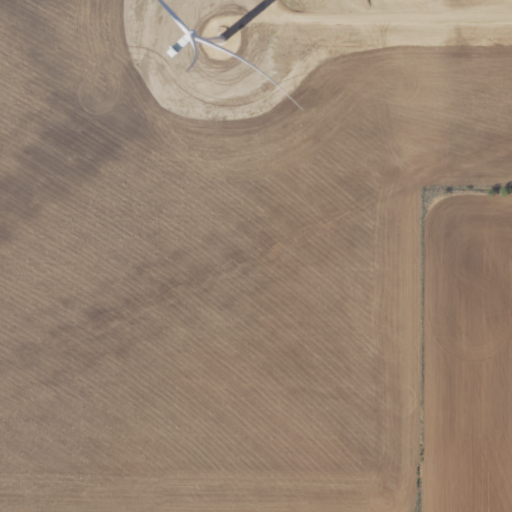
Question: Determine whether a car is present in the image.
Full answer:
No, there isn't any car down there.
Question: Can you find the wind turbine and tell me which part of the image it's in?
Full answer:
Look in the top portion of the view to spot the wind turbine.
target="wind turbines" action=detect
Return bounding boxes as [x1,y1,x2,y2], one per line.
[159,0,302,110]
